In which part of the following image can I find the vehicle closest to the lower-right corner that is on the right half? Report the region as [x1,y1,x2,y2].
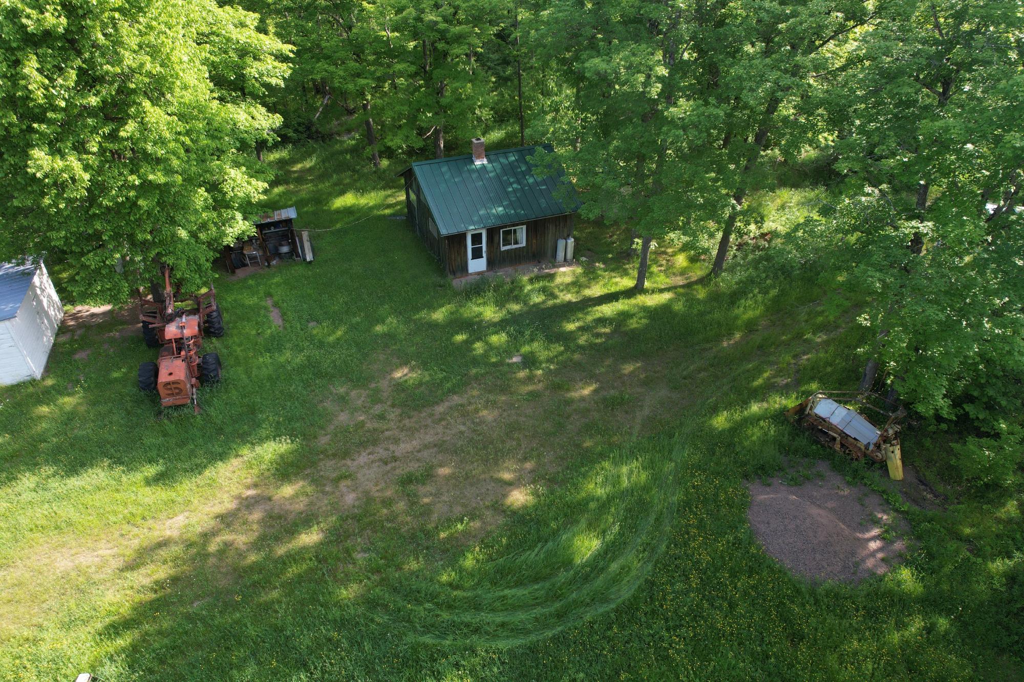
[783,393,907,487]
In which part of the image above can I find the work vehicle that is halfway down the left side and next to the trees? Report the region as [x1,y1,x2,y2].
[134,255,228,408]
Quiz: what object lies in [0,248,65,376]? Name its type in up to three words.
shed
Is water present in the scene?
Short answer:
No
